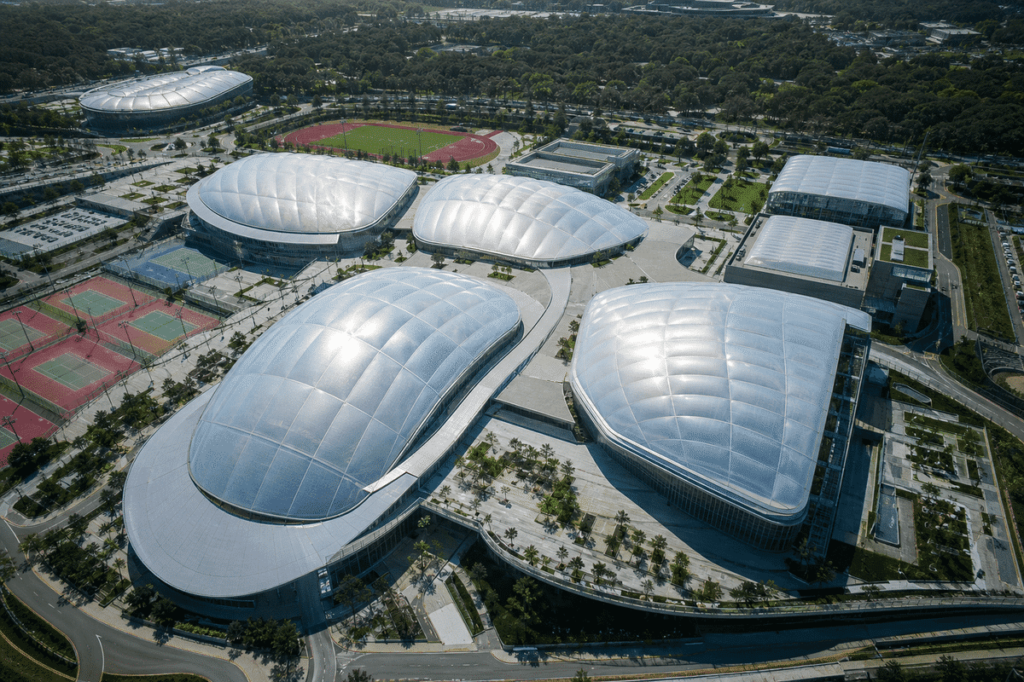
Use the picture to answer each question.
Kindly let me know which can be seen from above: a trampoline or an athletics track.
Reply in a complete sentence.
Of the two, only an athletics track appears.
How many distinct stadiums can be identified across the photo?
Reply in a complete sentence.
The count of stadiums comes to 2.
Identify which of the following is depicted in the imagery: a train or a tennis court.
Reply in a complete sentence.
Visible in the photo is a tennis court.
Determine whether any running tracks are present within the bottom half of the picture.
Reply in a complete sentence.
No, no running track can be made out within the bottom half of the picture.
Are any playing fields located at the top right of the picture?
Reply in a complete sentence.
No, no playing field appears at the top right of the picture.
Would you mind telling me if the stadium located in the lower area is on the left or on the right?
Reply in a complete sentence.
It is on the left.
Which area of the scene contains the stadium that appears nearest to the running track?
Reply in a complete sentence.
The stadium that appears nearest to the running track appears toward the top left of the photo.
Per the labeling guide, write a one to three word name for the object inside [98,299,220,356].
tennis court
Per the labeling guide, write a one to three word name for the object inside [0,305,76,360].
tennis court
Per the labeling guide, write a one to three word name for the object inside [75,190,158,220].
building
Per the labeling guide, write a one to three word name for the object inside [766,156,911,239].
building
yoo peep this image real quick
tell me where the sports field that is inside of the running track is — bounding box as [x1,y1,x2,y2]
[309,126,460,156]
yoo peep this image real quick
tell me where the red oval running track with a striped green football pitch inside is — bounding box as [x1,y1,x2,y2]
[275,121,502,163]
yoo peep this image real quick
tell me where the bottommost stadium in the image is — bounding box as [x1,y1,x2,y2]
[122,268,521,620]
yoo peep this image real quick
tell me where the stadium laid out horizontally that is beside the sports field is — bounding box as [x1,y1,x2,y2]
[76,65,256,141]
